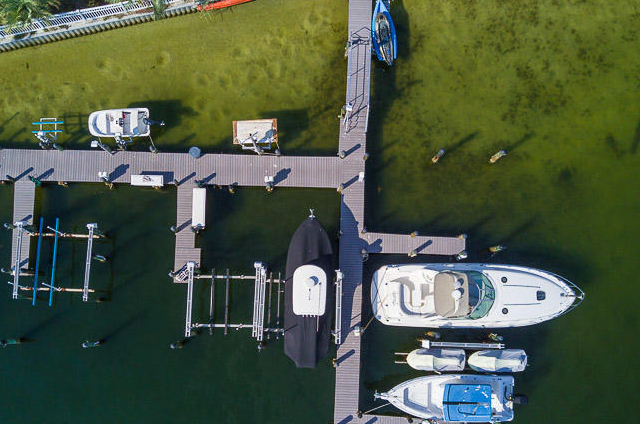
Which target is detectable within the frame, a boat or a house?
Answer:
boat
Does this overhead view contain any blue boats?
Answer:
Yes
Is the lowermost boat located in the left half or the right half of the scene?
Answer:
right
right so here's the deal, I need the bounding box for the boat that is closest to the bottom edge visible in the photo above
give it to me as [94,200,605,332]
[376,373,529,422]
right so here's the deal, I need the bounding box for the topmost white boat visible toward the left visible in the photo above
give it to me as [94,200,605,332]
[88,108,165,139]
